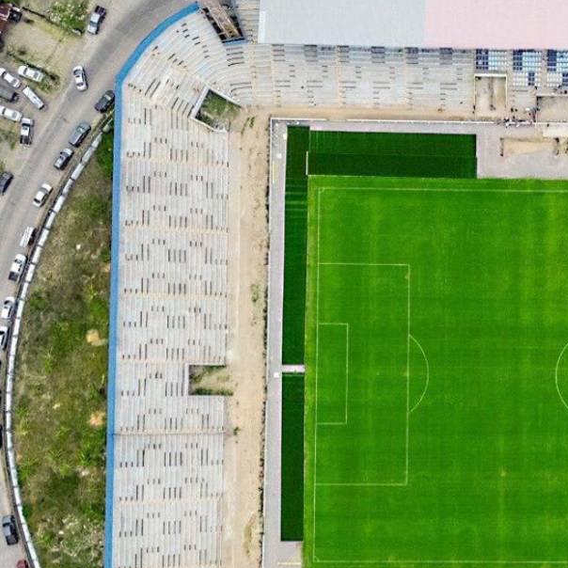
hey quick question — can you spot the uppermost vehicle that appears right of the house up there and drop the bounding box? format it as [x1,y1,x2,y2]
[87,3,107,34]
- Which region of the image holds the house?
top left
